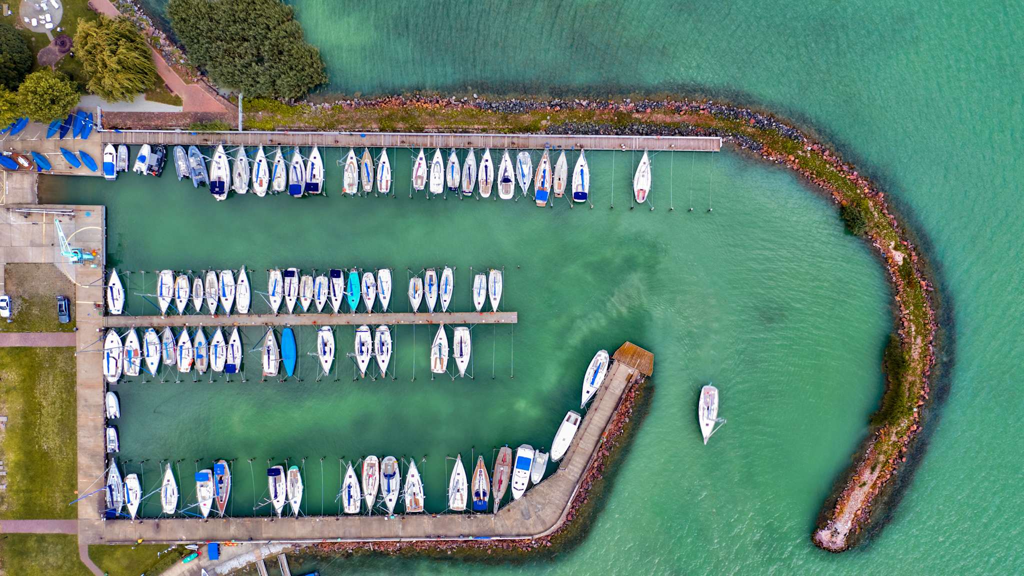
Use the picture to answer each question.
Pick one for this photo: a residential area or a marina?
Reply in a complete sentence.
It's a marina.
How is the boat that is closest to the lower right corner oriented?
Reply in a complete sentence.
Seen from above, the boat that is closest to the lower right corner lies vertically.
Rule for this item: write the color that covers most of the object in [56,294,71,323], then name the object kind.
blue car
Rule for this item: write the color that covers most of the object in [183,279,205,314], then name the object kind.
white boat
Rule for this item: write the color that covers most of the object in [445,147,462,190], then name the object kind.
white boat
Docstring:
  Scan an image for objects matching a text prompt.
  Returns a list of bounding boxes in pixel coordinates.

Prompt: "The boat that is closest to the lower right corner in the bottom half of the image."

[696,385,724,446]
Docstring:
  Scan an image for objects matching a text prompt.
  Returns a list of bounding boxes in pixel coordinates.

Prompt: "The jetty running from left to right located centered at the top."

[99,130,722,152]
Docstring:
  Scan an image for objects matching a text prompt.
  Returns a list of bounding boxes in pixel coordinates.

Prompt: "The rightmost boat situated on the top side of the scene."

[633,149,657,204]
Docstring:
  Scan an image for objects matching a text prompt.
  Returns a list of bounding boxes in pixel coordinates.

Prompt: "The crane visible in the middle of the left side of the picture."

[54,218,98,263]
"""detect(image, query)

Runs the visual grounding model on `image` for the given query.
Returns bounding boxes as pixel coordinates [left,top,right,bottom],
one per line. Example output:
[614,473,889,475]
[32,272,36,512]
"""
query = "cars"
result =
[56,294,71,323]
[0,295,12,318]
